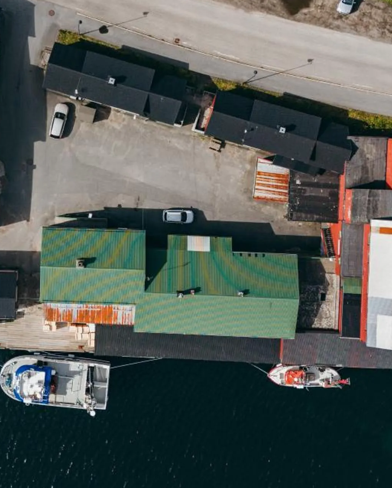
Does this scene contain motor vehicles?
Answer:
Yes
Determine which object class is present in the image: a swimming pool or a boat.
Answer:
boat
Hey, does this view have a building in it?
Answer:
Yes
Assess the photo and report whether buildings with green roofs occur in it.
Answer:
Yes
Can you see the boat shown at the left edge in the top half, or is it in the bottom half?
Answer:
bottom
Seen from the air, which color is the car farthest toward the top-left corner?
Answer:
white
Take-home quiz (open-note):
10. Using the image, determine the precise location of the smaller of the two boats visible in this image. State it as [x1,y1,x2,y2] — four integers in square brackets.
[270,365,352,394]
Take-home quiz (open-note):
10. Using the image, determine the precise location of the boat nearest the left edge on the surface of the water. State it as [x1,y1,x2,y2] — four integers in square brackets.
[0,360,110,418]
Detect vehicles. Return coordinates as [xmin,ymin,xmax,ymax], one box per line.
[48,102,68,139]
[161,209,195,225]
[338,0,360,15]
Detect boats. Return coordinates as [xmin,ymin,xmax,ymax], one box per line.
[0,360,110,418]
[270,365,352,394]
